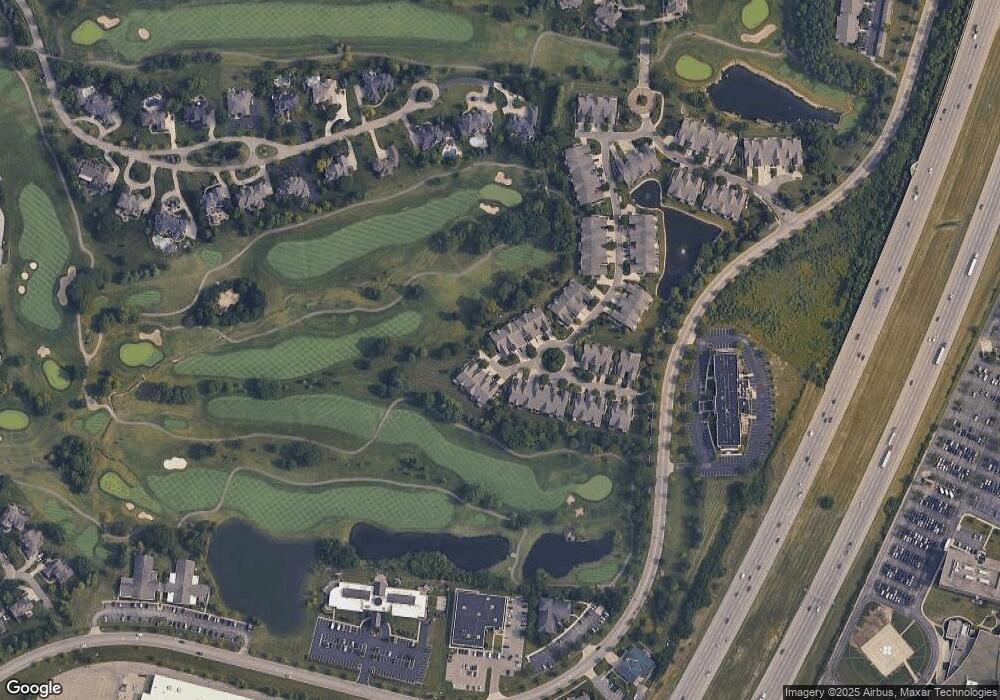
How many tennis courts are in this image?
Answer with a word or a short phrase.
zero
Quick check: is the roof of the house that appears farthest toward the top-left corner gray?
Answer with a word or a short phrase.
Yes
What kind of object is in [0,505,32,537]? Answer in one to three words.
house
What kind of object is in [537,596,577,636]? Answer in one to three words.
building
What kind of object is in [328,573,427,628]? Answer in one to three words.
building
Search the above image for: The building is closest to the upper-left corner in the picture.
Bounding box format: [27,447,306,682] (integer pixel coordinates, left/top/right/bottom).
[77,87,115,125]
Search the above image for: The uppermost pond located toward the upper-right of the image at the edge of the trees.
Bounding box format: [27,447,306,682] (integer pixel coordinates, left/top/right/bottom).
[707,64,843,126]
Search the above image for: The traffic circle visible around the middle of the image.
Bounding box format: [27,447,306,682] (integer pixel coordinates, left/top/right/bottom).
[531,338,575,382]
